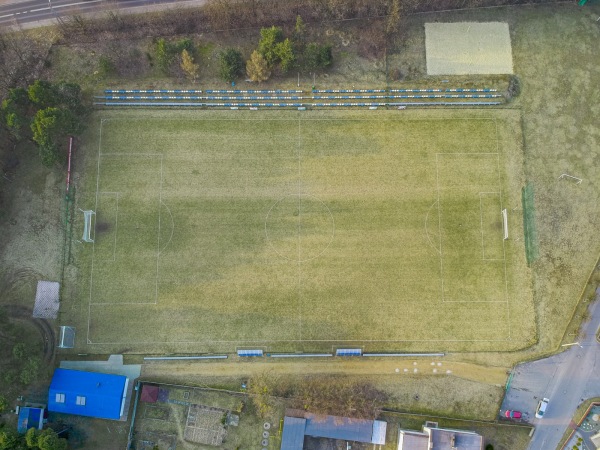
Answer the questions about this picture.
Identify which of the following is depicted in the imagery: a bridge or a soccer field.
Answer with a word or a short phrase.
soccer field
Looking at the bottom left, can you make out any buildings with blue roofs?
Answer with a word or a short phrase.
Yes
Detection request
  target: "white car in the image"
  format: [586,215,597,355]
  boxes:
[534,398,549,418]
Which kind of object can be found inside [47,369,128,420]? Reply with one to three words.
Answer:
building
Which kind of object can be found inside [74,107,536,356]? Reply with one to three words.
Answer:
soccer field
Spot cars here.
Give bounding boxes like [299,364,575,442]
[534,398,549,418]
[504,409,522,418]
